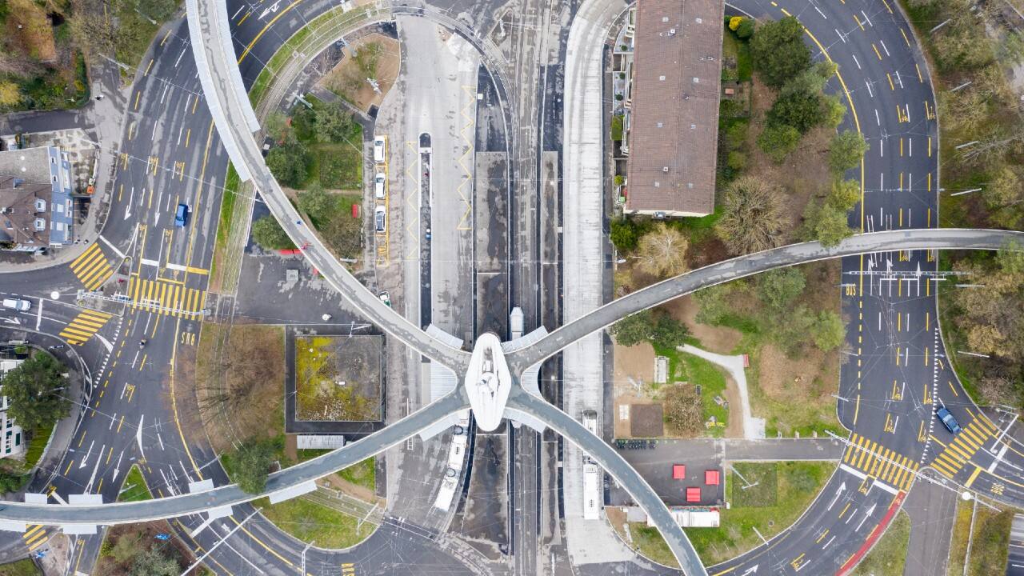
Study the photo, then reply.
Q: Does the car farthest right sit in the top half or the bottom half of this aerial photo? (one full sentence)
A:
Seen from above, the car farthest right lies in the bottom half of the view.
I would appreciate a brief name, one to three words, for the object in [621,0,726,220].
building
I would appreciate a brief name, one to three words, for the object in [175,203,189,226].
car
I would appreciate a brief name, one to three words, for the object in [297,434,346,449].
shed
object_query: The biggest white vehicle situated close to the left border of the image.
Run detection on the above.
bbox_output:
[1,298,33,311]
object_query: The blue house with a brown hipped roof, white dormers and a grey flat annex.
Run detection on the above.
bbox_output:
[0,146,81,247]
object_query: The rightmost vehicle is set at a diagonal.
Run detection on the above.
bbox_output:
[936,406,961,435]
